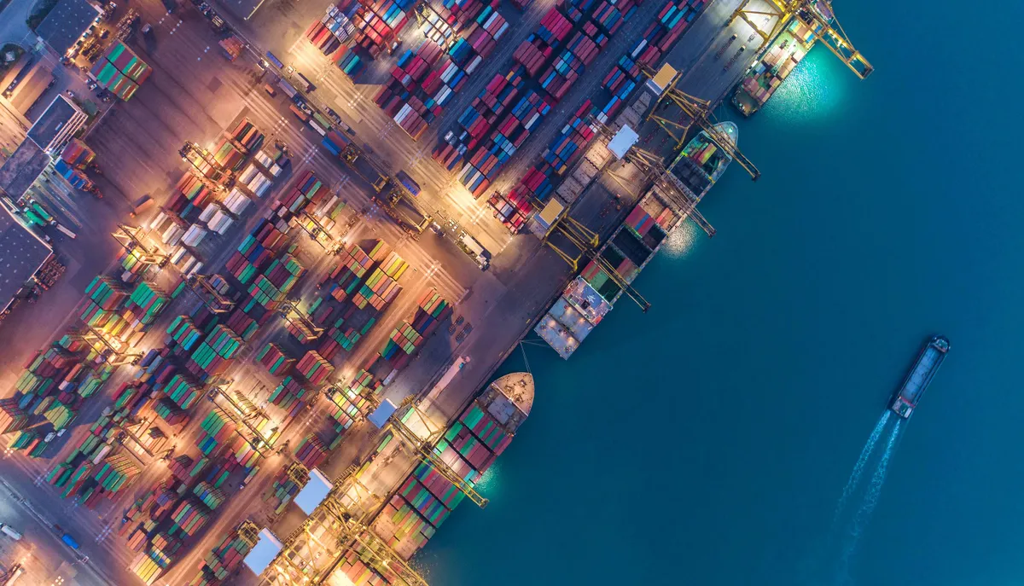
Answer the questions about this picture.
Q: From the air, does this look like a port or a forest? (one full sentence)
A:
This looks like a port.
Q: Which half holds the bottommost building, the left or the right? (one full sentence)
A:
The bottommost building sits on the left side.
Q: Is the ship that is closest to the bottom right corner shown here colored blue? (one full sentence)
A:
Yes, blue is the color of the ship that is closest to the bottom right corner.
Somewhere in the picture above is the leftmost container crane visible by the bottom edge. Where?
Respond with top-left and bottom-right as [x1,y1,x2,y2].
[240,524,339,586]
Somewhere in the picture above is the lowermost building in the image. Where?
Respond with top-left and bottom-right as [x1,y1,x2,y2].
[0,196,60,314]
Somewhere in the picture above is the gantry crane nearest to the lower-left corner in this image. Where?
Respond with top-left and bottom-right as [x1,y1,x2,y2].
[118,427,179,468]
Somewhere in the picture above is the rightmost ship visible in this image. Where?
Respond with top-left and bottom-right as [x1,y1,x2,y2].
[890,337,947,418]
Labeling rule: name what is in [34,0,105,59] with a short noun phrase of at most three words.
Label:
building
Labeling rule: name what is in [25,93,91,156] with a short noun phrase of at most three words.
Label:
building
